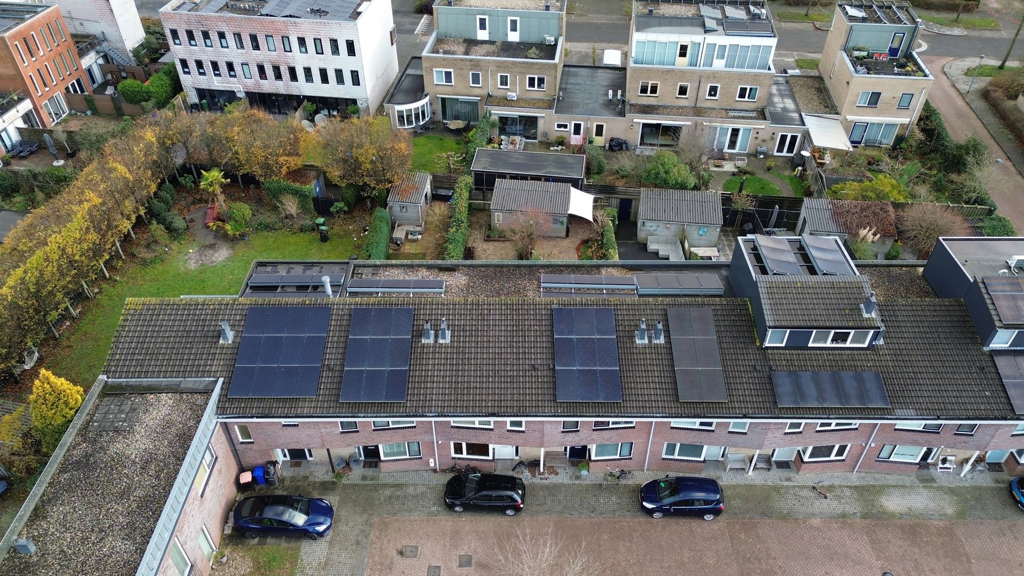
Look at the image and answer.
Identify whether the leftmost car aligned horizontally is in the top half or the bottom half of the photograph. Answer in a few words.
bottom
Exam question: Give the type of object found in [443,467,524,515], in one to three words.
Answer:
car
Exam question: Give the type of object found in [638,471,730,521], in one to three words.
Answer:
car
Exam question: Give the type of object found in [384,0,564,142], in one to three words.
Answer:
house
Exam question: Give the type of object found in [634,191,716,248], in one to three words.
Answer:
shed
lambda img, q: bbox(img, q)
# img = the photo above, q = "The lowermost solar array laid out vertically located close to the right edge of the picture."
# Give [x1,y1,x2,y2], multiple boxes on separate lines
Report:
[994,352,1024,414]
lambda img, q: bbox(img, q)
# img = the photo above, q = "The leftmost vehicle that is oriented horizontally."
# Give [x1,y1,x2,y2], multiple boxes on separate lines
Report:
[232,492,336,541]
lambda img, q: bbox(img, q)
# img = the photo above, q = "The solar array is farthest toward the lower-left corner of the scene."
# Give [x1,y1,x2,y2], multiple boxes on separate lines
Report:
[227,305,329,396]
